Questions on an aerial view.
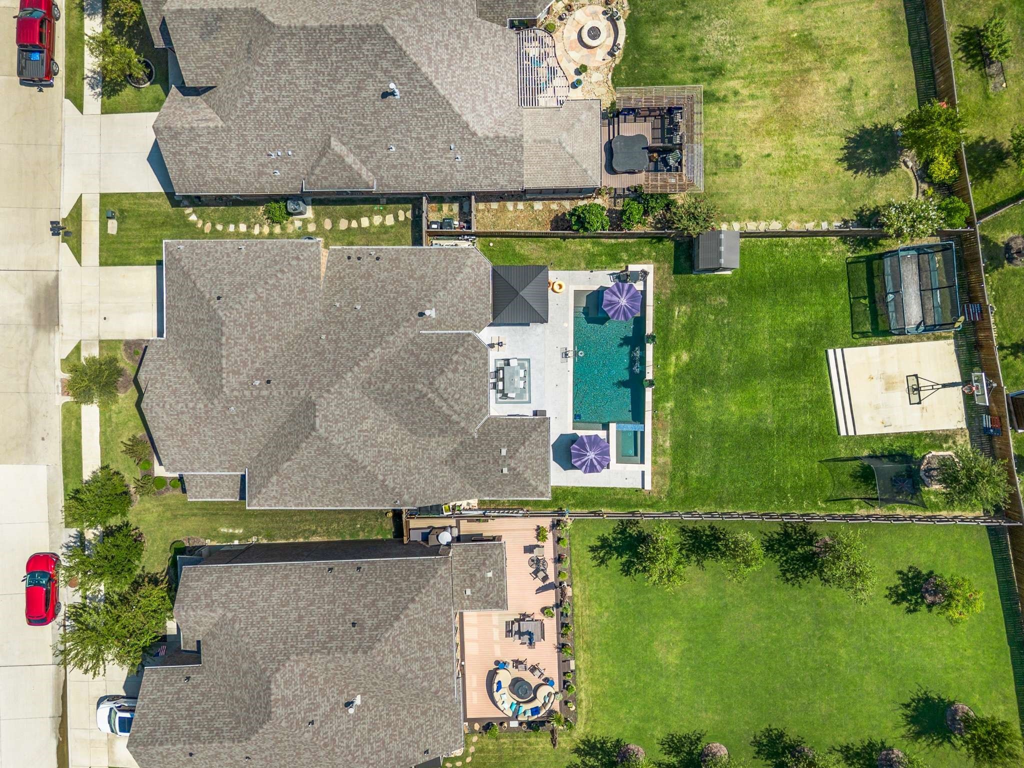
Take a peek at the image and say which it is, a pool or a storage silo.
pool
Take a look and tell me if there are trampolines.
Yes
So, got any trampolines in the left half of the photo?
No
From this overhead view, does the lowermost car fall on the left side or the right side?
left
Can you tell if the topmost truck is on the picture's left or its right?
left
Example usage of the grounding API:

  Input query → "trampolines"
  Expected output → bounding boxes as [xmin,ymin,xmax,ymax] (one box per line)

[878,241,963,335]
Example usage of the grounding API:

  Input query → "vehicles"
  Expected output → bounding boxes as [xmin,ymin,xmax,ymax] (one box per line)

[12,0,60,89]
[97,696,138,737]
[21,552,63,625]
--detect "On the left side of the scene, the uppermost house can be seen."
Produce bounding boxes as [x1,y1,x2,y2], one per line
[142,0,603,205]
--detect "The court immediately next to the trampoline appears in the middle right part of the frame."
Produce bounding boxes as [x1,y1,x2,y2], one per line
[826,340,966,435]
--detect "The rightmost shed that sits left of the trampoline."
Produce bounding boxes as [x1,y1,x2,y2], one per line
[696,230,743,278]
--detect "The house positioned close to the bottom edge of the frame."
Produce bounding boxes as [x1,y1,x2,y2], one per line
[127,537,508,768]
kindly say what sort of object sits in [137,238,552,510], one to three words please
house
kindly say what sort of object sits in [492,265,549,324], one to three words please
gazebo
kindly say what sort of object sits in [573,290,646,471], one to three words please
swimming pool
